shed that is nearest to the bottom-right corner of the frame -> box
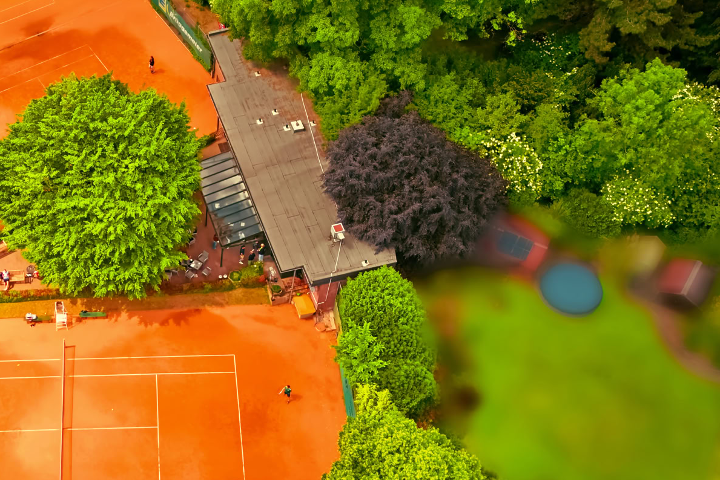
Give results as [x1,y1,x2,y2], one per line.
[653,260,720,322]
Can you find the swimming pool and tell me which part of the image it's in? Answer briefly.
right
